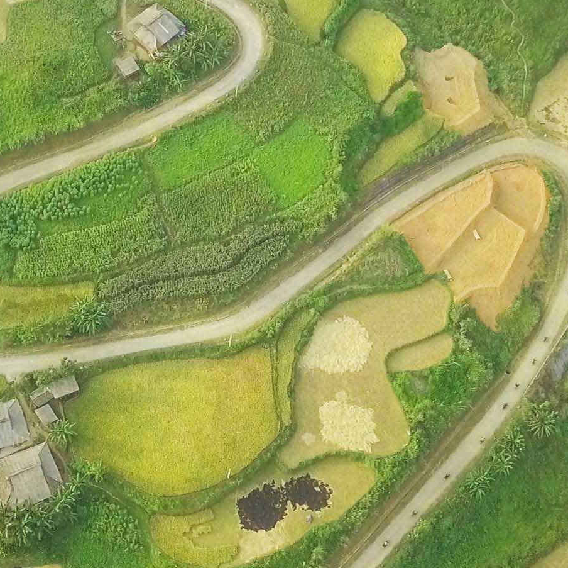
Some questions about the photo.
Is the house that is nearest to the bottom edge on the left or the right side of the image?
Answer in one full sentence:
It is on the left.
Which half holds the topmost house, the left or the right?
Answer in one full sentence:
The topmost house appears in the left half of the scene.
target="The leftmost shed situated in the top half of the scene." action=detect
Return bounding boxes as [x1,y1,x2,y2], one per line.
[114,55,139,79]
